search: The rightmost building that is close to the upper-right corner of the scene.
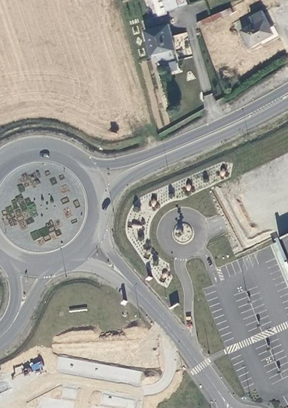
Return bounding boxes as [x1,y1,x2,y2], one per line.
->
[236,10,282,54]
